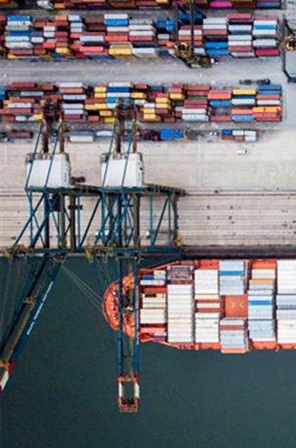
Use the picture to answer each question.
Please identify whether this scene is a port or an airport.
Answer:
port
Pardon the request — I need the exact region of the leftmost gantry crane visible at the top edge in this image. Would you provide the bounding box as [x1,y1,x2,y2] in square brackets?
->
[173,3,212,72]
